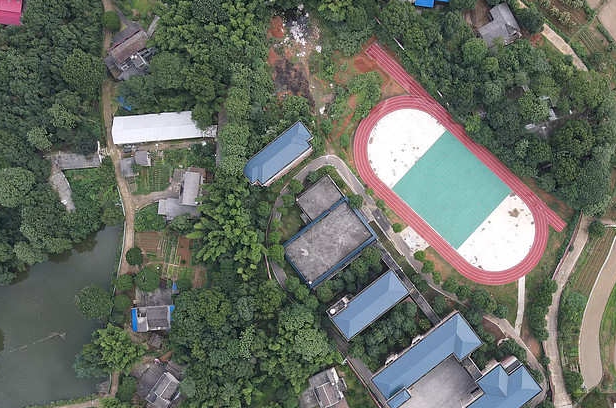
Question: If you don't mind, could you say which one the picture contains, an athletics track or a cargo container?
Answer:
athletics track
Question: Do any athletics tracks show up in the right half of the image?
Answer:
Yes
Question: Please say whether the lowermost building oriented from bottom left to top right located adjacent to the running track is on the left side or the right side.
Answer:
right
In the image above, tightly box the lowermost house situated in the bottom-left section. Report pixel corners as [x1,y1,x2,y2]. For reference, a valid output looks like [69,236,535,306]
[145,372,181,408]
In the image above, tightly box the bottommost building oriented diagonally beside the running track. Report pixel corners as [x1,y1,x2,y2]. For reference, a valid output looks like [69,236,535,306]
[371,311,483,401]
